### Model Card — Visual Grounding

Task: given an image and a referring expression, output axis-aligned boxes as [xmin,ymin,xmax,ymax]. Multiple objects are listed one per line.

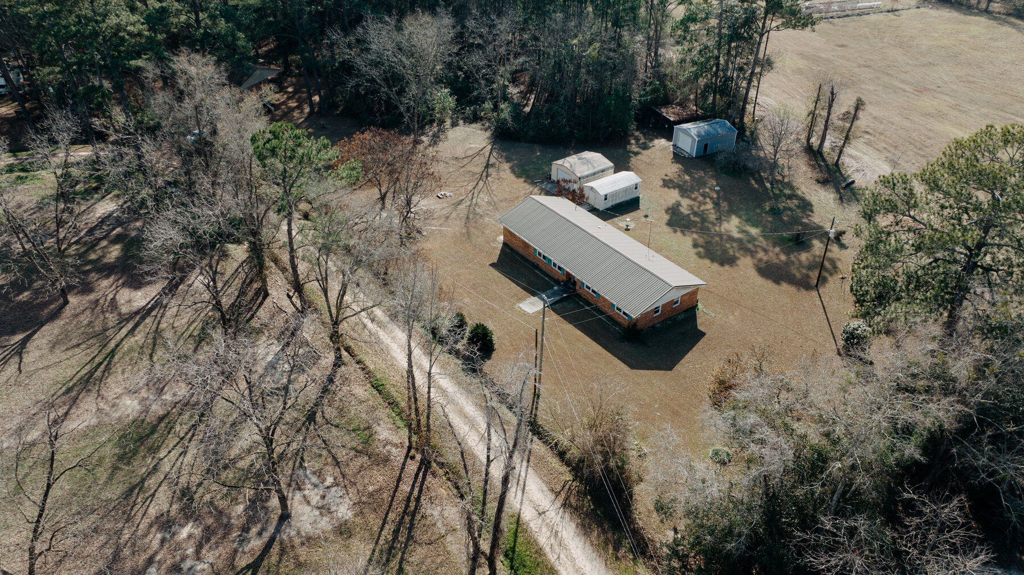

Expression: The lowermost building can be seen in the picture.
[495,195,708,334]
